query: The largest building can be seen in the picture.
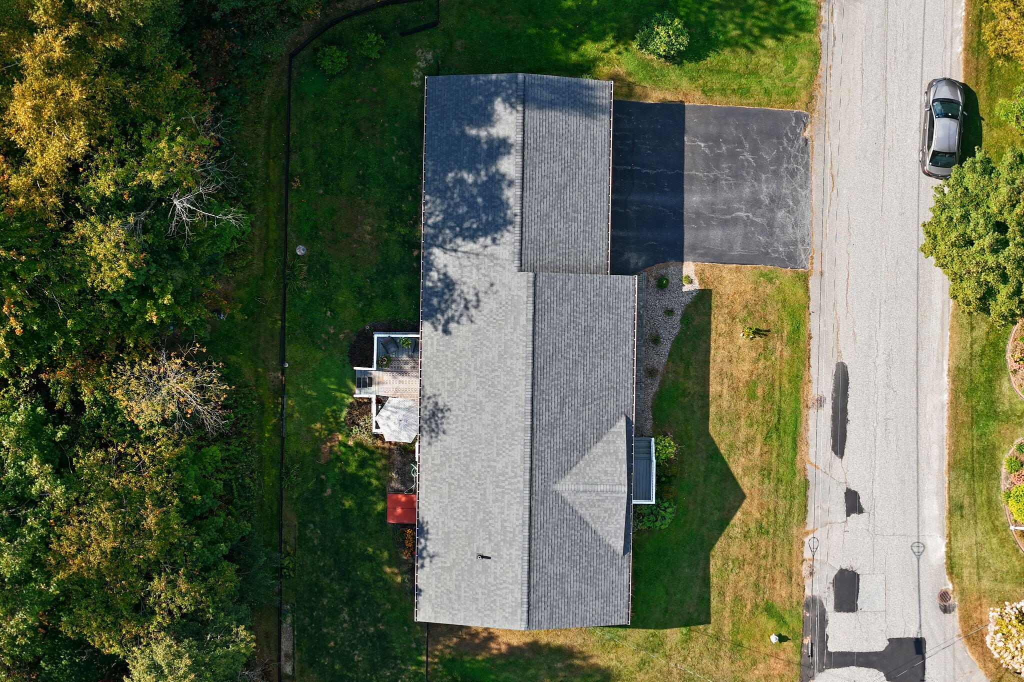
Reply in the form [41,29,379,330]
[415,72,636,631]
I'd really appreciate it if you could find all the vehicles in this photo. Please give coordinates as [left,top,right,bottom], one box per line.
[922,77,971,179]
